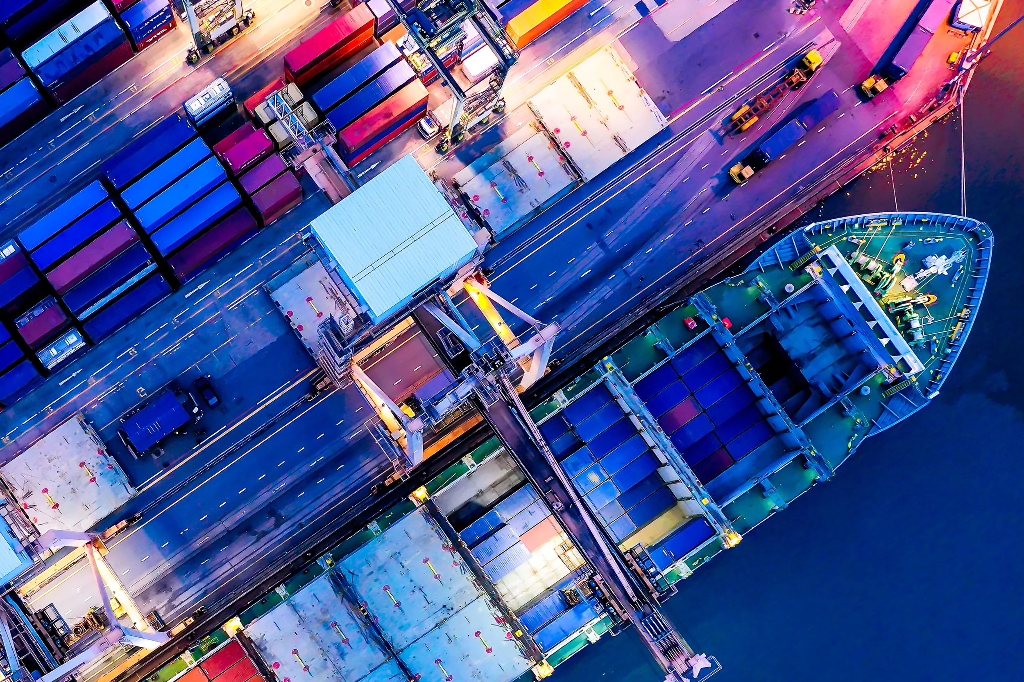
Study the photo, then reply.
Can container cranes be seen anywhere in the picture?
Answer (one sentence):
Yes, a container crane can be made out from above.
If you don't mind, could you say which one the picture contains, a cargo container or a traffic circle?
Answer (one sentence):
The image shows a cargo container.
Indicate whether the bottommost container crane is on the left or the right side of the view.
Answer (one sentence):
The bottommost container crane appears in the left half of the scene.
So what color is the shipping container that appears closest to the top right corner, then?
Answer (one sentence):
From above, the shipping container that appears closest to the top right corner appears purple.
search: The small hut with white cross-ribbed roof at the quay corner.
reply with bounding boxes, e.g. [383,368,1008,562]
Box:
[949,0,992,34]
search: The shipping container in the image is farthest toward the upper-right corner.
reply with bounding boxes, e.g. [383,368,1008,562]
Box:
[908,0,954,33]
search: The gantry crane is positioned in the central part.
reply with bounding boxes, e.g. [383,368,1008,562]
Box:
[259,67,728,682]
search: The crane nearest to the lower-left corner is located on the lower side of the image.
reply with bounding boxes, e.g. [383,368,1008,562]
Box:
[0,514,197,682]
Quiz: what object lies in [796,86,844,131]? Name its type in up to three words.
shipping container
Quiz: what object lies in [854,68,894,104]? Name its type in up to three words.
truck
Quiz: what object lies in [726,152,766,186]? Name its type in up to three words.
truck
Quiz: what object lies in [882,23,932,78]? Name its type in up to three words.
shipping container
